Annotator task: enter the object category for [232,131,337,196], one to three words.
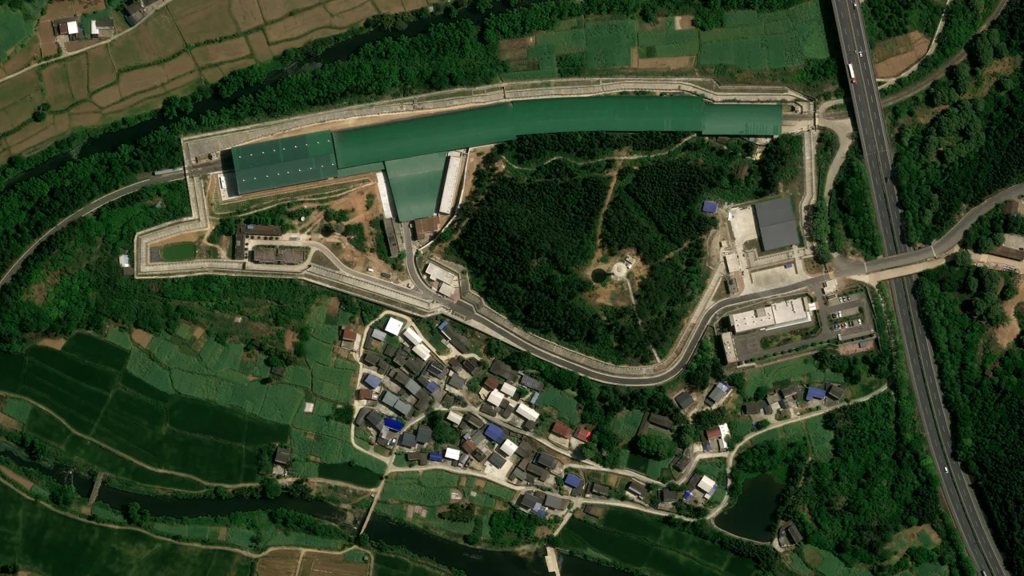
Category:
shed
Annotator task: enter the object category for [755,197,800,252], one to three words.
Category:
building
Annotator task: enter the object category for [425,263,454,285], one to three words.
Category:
building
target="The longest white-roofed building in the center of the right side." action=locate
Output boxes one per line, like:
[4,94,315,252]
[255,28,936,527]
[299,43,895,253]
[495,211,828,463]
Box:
[733,297,812,333]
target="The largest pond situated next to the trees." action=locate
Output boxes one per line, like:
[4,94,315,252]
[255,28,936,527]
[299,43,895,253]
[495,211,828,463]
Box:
[716,475,783,540]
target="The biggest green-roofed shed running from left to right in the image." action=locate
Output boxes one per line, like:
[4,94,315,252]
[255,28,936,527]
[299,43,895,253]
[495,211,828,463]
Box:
[333,96,702,169]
